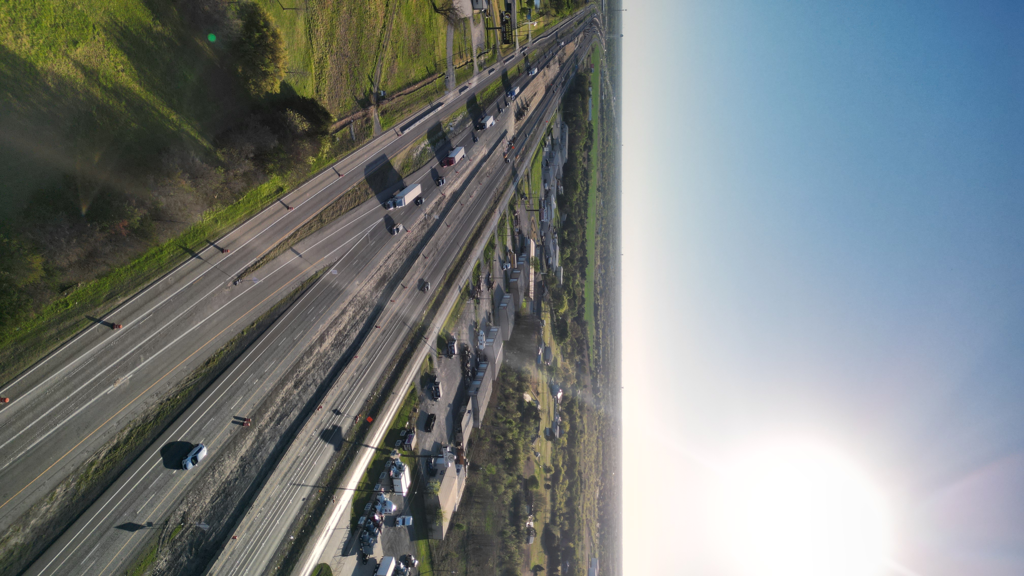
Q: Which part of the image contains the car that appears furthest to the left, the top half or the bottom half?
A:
bottom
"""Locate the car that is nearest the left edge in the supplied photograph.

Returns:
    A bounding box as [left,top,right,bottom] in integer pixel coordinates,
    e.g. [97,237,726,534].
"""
[180,441,208,472]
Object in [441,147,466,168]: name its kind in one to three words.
truck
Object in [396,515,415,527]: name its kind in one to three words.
vehicle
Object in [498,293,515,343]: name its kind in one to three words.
shed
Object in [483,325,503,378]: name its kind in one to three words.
shed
